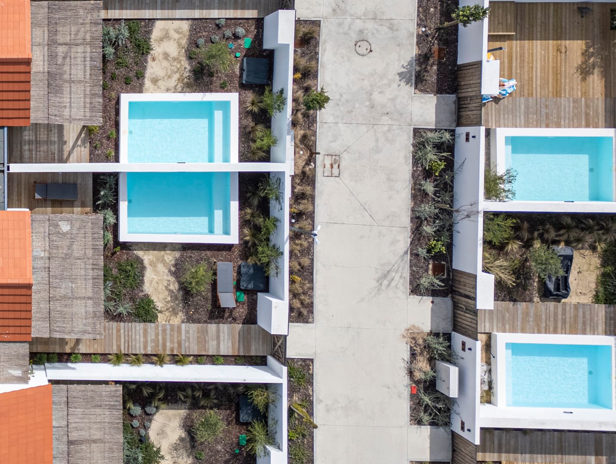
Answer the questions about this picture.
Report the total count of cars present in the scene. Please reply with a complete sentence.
I count no cars.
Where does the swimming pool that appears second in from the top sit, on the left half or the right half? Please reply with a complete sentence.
The swimming pool that appears second in from the top appears in the right half of the scene.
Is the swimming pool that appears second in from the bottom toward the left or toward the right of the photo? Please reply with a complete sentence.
It is on the left.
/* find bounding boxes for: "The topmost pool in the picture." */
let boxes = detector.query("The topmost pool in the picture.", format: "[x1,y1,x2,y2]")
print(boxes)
[118,93,238,162]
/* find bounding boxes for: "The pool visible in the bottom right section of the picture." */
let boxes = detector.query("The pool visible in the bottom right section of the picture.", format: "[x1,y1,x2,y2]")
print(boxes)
[490,333,615,411]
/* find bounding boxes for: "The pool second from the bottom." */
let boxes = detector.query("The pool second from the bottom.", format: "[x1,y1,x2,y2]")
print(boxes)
[118,171,238,243]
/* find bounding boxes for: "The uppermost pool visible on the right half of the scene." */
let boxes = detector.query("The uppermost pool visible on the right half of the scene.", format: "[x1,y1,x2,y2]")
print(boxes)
[490,128,616,200]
